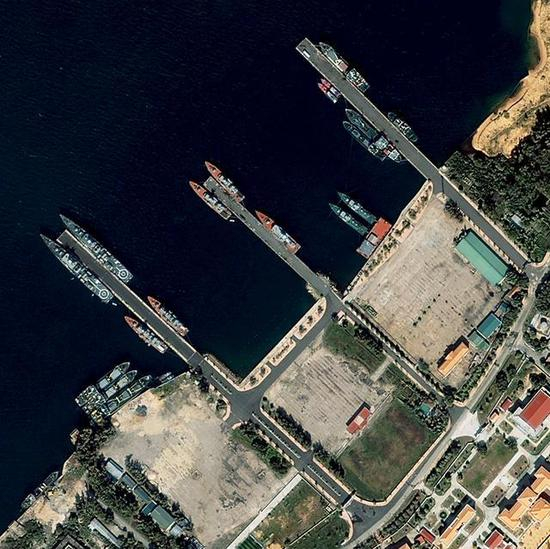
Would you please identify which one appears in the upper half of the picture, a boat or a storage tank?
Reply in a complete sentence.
The feature located in the upper half of the picture is a boat.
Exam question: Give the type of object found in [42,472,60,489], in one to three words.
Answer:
boat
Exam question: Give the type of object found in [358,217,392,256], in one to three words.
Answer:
pier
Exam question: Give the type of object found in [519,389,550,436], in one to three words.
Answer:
building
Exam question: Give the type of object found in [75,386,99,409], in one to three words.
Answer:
ship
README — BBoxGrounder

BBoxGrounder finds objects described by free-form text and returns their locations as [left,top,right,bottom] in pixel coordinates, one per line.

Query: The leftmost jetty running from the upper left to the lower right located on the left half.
[57,229,204,366]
